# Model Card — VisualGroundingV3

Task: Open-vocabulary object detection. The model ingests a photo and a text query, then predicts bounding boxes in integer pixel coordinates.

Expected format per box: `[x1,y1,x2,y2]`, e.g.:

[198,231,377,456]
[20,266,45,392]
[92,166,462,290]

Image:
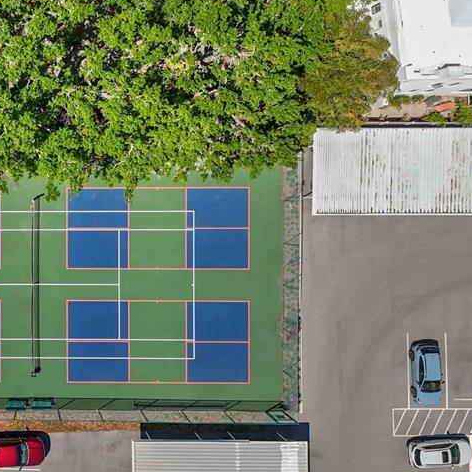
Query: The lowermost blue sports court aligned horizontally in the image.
[67,300,250,384]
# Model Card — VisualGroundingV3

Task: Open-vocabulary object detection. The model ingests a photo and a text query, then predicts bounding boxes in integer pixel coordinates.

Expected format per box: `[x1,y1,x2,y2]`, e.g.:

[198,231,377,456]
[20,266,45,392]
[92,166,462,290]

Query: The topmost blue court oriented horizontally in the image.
[67,187,250,270]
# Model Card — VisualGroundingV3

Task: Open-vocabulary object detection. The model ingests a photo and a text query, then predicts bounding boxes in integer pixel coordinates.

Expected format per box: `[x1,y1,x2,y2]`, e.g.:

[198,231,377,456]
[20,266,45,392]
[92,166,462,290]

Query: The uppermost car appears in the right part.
[408,344,444,406]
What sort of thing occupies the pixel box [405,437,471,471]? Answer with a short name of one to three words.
car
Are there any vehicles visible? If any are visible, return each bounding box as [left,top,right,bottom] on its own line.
[405,437,471,471]
[408,344,444,406]
[0,436,43,472]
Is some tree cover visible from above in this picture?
Yes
